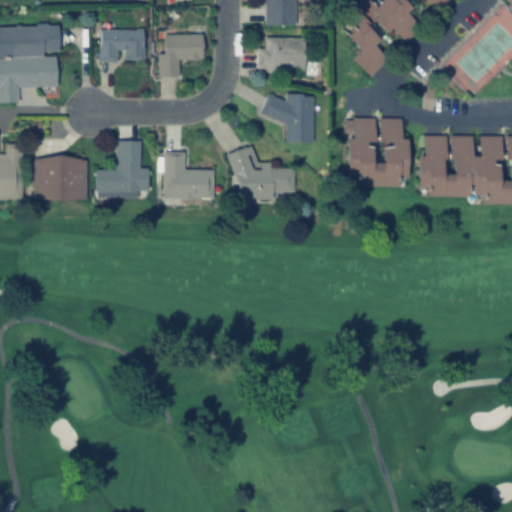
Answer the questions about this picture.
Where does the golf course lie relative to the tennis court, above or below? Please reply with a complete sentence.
You can see the golf course below the tennis court in the frame.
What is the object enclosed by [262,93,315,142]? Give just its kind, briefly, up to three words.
house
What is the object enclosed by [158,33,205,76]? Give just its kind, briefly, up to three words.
house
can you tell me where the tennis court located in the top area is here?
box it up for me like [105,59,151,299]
[445,10,512,96]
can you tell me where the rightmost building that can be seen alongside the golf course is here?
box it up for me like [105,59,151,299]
[422,135,512,204]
